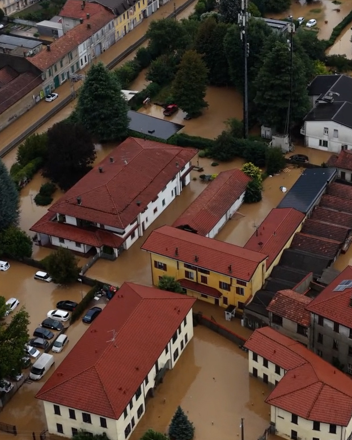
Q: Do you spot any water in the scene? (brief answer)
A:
Yes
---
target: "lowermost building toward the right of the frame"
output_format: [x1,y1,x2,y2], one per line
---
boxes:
[246,326,352,440]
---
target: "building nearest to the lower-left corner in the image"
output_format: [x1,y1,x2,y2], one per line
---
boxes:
[35,283,197,440]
